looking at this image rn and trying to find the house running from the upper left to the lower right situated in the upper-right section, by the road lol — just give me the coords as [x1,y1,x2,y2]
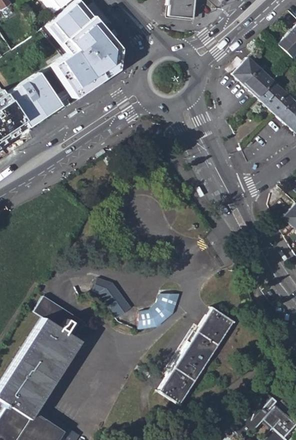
[229,56,296,133]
